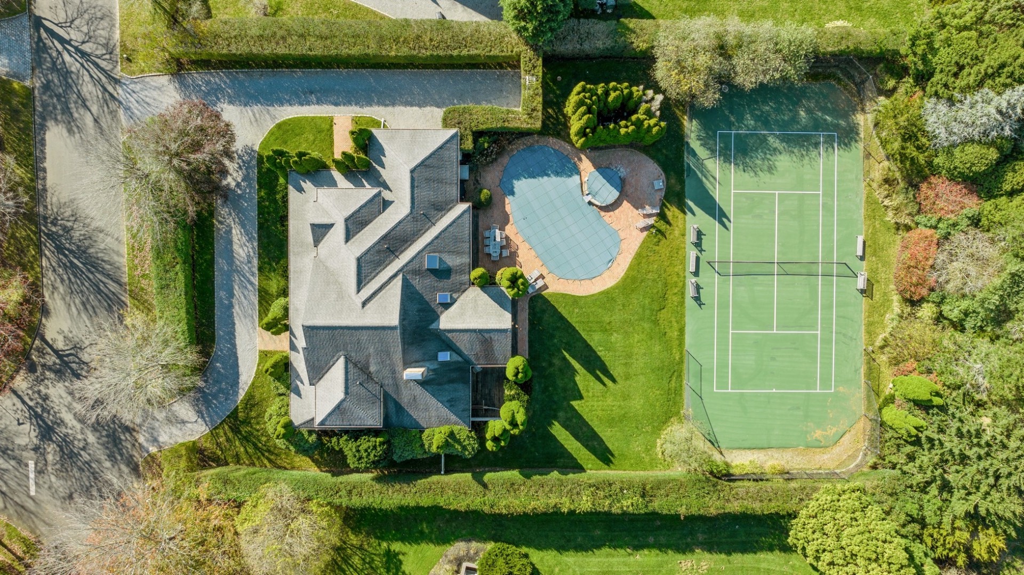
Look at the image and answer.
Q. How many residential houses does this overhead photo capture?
one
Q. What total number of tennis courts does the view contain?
1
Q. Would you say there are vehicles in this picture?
No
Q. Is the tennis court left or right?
right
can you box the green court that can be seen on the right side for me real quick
[685,81,863,448]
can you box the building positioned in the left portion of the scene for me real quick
[288,128,512,429]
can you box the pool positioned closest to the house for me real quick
[495,139,626,286]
